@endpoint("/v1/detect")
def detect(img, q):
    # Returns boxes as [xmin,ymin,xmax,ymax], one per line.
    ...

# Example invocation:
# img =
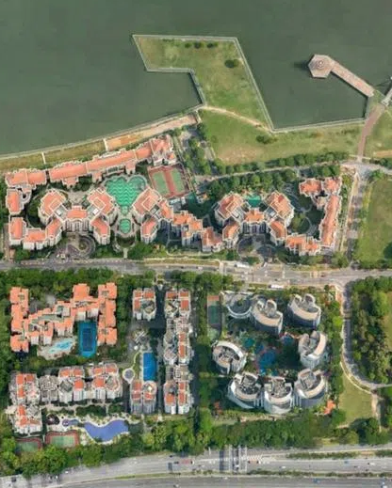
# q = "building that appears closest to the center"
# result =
[170,212,226,254]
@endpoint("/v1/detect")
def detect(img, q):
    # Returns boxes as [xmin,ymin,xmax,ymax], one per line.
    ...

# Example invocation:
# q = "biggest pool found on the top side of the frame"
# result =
[105,174,148,209]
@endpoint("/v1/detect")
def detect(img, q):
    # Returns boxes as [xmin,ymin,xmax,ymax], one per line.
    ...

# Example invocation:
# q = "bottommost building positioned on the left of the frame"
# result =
[15,404,46,436]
